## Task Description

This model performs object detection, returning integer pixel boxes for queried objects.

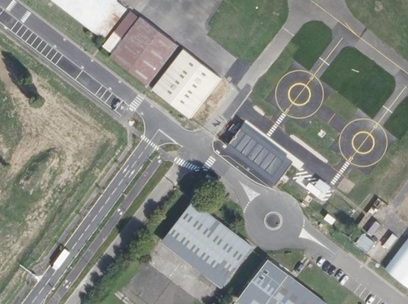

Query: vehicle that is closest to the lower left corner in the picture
[51,250,69,271]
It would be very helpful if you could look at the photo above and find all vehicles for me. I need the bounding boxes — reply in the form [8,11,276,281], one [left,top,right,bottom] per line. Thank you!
[365,296,374,304]
[327,264,336,275]
[111,98,120,108]
[322,260,332,271]
[334,269,344,280]
[230,122,239,132]
[51,250,69,271]
[318,256,326,267]
[340,275,349,286]
[296,262,304,272]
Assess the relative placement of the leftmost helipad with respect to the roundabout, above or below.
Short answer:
above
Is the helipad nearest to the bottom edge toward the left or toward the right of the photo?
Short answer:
right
